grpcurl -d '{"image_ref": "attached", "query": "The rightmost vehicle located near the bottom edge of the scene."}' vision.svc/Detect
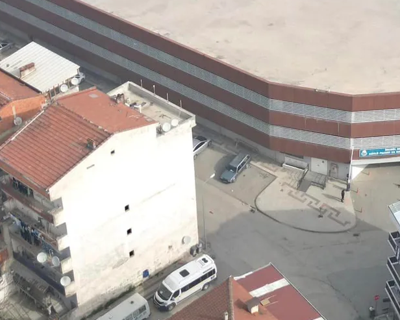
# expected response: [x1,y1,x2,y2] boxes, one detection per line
[153,255,211,311]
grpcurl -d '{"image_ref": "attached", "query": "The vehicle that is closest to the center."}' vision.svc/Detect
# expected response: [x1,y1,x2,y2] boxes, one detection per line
[194,138,213,153]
